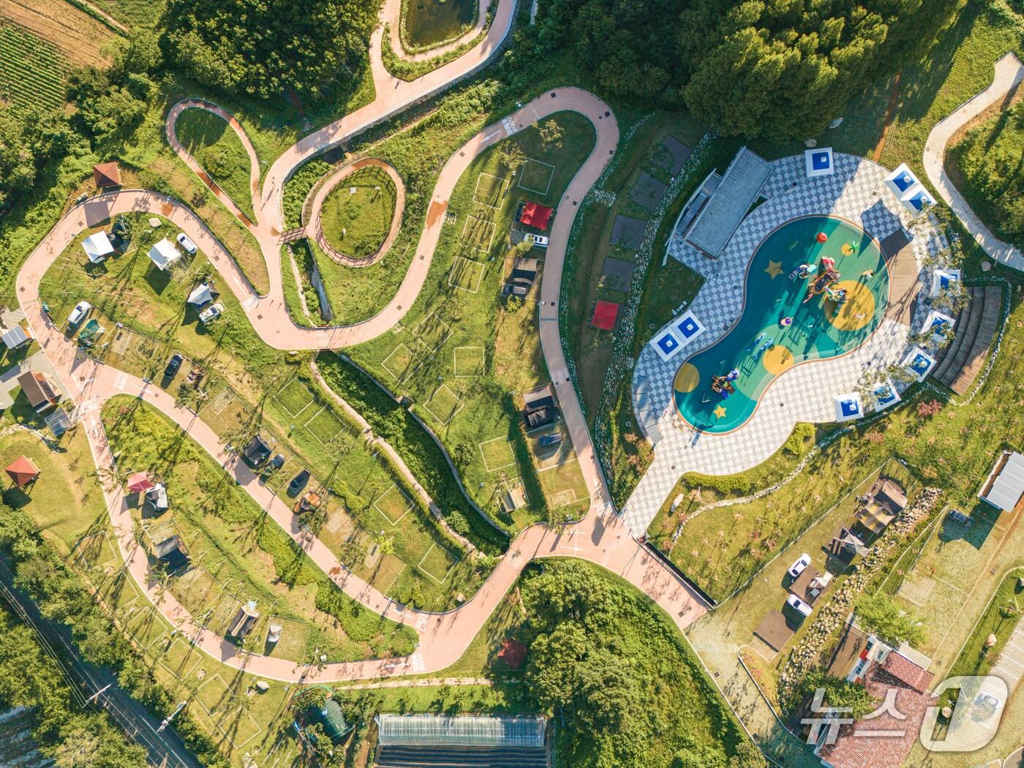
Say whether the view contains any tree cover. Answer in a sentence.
Yes, tree cover shows up in the scene.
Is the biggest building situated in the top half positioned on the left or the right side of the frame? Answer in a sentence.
You can find the biggest building situated in the top half on the right side of the picture.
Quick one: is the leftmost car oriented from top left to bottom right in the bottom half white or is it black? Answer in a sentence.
The leftmost car oriented from top left to bottom right in the bottom half looks white in the image.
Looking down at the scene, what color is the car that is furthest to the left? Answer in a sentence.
In this view, the car that is furthest to the left is white.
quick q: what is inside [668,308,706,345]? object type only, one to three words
umbrella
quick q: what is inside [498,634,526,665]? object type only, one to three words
gazebo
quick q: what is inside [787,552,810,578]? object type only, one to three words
car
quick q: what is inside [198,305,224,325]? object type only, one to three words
car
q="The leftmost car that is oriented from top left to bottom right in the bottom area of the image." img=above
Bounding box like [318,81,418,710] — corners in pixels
[786,593,813,618]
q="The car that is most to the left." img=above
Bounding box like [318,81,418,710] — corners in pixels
[67,301,92,327]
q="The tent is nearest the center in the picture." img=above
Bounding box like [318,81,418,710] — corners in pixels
[523,386,560,427]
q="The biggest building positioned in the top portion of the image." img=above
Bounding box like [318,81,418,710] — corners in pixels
[682,150,774,258]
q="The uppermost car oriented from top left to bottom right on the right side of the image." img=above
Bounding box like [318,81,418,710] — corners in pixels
[944,507,970,529]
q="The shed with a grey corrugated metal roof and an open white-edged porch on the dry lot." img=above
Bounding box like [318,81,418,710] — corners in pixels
[973,449,1024,513]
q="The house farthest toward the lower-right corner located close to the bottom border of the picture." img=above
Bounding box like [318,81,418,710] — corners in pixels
[815,633,939,768]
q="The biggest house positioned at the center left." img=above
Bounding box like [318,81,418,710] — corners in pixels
[18,370,68,414]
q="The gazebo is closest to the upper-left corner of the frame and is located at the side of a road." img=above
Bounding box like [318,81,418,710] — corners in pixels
[96,163,129,192]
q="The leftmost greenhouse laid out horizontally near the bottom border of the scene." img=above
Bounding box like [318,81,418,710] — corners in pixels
[376,713,546,745]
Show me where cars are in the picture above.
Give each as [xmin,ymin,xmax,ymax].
[287,468,311,495]
[163,353,185,379]
[178,232,199,256]
[198,305,224,325]
[787,552,810,578]
[944,507,970,529]
[524,233,548,246]
[537,432,563,447]
[67,301,92,327]
[786,593,813,618]
[265,450,287,473]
